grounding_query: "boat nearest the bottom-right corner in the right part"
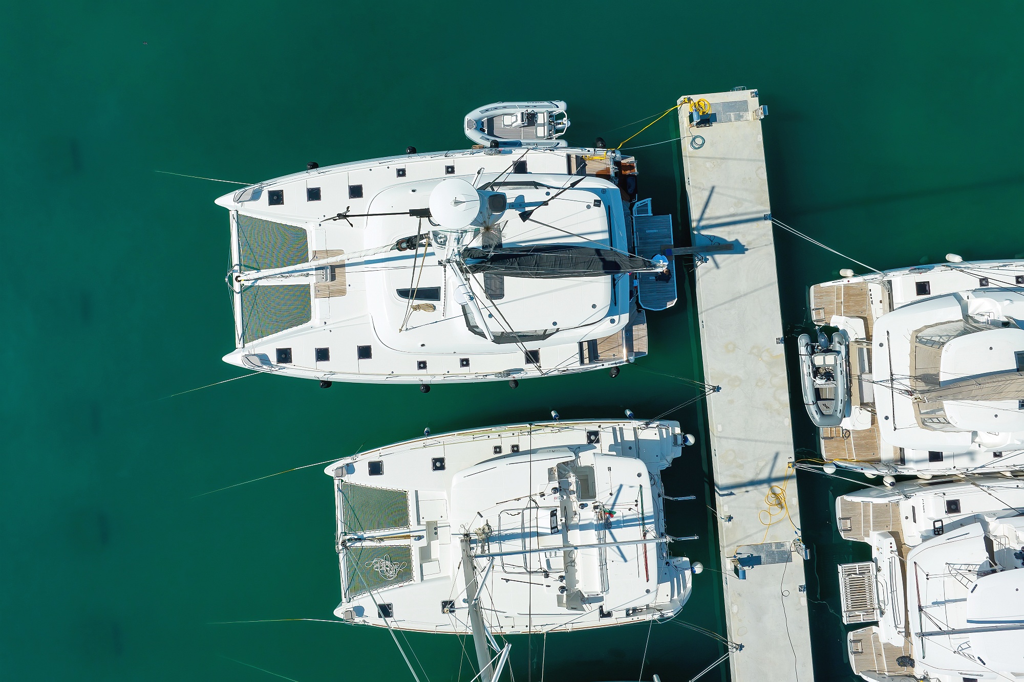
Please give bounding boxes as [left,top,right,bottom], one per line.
[828,469,1024,682]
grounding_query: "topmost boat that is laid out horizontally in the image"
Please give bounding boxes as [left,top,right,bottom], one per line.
[465,100,570,148]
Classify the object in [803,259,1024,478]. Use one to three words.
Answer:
boat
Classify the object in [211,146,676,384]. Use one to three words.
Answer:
boat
